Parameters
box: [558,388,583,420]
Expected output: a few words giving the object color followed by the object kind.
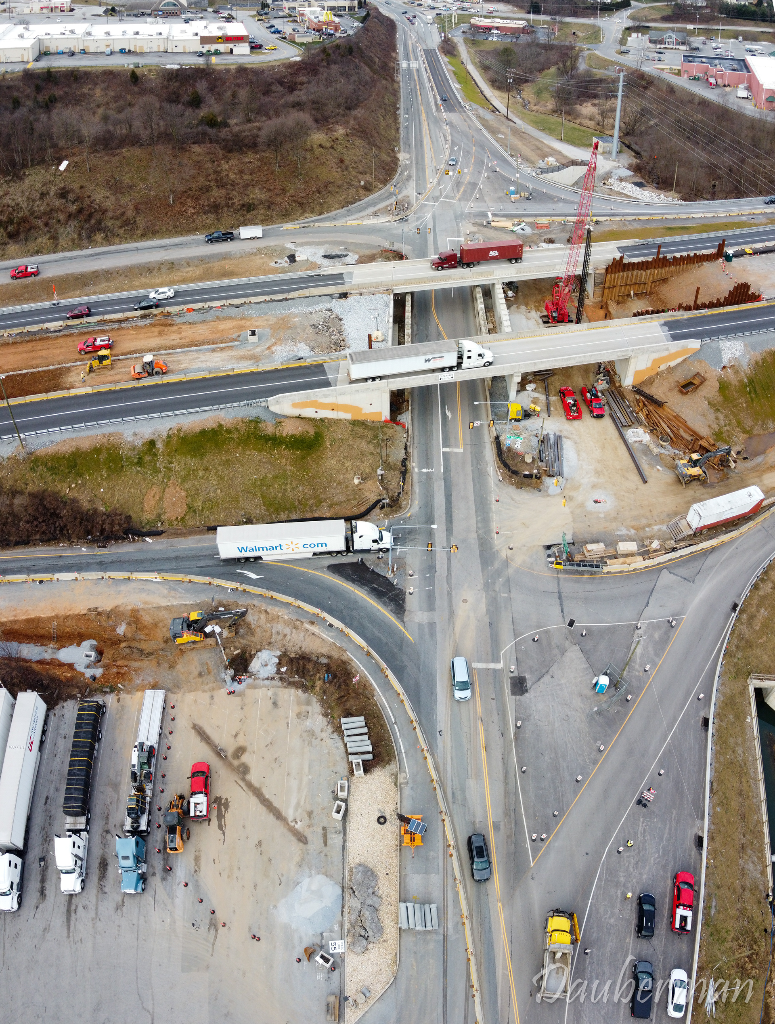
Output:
red truck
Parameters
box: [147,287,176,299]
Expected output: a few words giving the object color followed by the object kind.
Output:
white vehicle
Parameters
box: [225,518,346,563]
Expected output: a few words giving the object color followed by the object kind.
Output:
white trailer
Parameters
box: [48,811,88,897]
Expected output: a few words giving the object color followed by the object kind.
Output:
white truck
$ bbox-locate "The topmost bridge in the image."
[322,240,639,291]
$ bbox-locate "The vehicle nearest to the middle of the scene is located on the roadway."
[329,520,395,556]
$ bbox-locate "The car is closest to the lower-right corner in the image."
[666,969,689,1020]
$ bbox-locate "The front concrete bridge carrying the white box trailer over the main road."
[269,315,699,407]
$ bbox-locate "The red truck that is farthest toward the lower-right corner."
[669,872,698,938]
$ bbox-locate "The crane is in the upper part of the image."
[534,137,602,328]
